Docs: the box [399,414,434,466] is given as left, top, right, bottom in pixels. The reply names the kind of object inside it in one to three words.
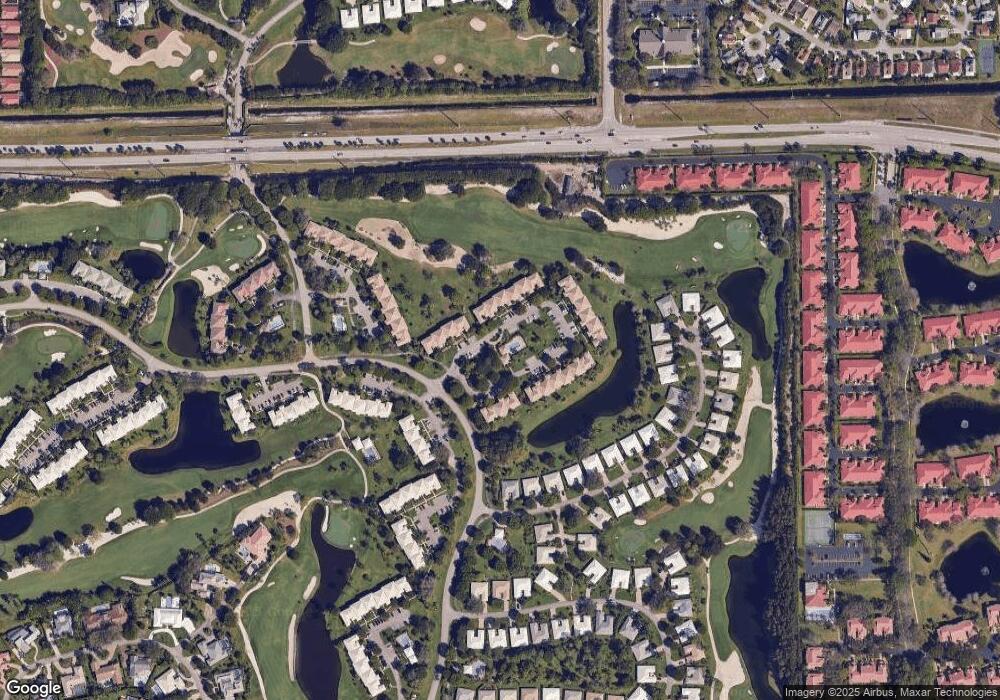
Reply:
building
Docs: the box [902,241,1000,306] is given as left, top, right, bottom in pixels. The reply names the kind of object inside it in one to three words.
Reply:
pond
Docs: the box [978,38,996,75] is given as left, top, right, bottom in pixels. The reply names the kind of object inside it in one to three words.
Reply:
tennis court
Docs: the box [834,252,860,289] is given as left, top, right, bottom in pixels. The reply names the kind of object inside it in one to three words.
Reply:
house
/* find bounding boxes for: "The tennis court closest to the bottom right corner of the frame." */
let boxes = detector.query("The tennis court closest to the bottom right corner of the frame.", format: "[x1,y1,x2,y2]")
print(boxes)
[804,511,835,545]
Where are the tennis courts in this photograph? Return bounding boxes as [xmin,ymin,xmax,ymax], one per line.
[804,511,835,545]
[978,38,996,75]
